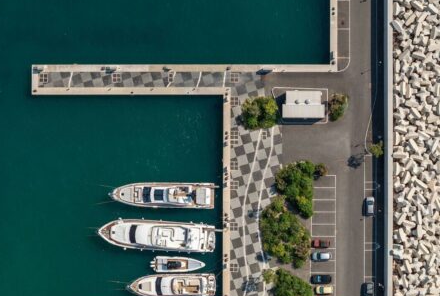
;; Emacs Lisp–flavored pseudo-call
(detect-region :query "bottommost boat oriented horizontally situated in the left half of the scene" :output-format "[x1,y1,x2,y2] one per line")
[110,268,225,296]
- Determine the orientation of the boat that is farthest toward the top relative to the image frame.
horizontally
